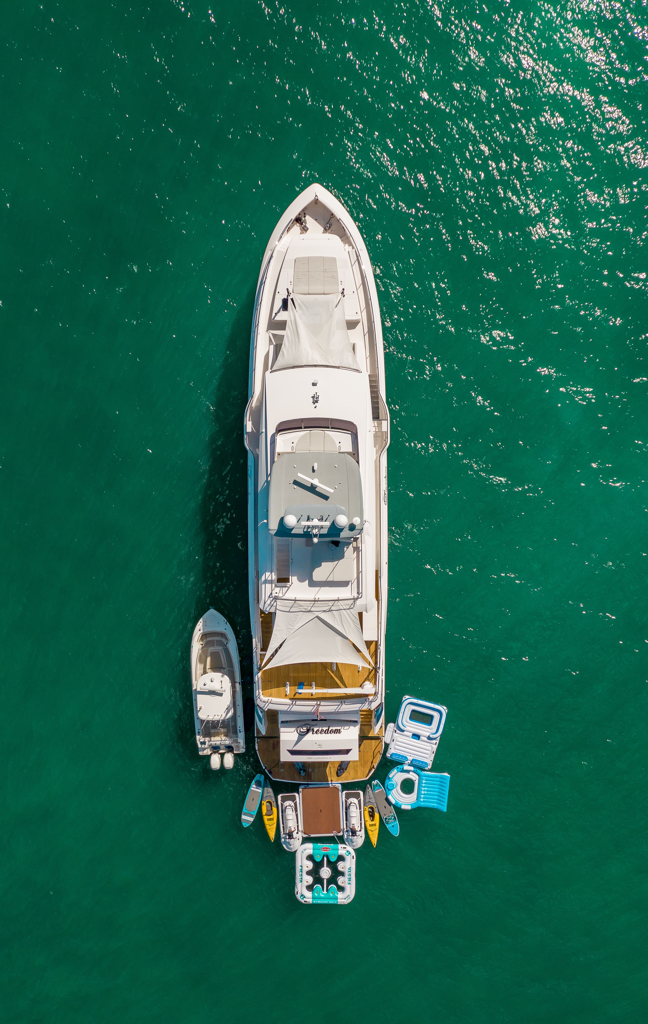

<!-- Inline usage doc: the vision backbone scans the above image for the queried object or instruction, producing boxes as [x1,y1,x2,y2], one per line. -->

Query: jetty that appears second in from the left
[299,782,343,837]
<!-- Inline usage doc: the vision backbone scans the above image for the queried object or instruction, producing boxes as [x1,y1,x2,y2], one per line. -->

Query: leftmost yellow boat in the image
[261,780,277,844]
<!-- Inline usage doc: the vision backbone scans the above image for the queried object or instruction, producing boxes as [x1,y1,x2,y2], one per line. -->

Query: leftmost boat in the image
[191,609,246,776]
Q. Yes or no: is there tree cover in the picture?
No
